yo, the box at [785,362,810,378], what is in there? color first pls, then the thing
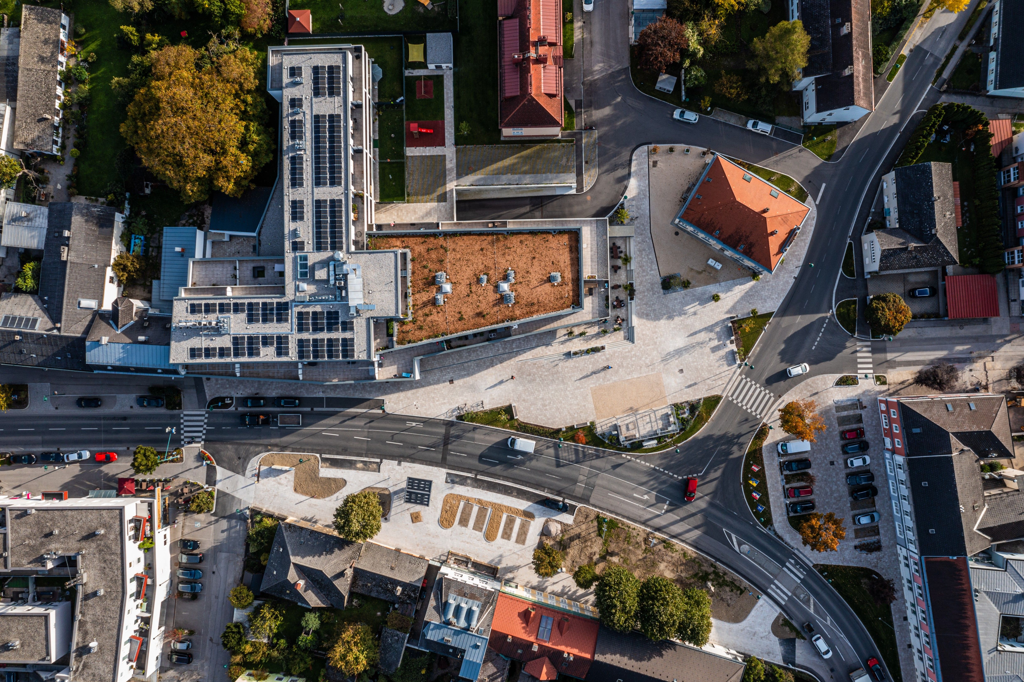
white car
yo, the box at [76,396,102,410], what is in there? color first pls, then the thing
black car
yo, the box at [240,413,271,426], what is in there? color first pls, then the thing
black vehicle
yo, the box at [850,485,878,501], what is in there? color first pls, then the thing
black car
